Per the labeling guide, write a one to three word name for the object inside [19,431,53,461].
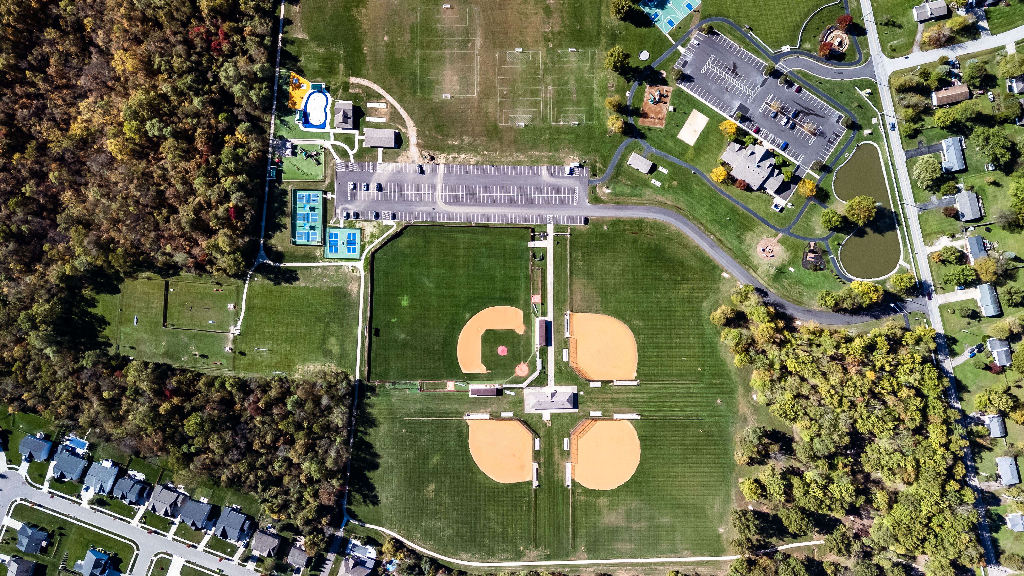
house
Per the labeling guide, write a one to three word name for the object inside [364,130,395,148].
building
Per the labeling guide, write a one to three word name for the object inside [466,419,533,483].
baseball field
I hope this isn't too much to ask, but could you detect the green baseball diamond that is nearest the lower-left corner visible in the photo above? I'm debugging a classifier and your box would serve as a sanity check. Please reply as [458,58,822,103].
[339,254,536,416]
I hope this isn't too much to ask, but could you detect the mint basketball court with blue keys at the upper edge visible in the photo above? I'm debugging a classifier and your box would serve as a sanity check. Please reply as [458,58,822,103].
[639,0,702,34]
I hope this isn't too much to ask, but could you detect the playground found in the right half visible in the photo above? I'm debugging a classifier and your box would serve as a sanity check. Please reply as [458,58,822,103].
[639,85,672,128]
